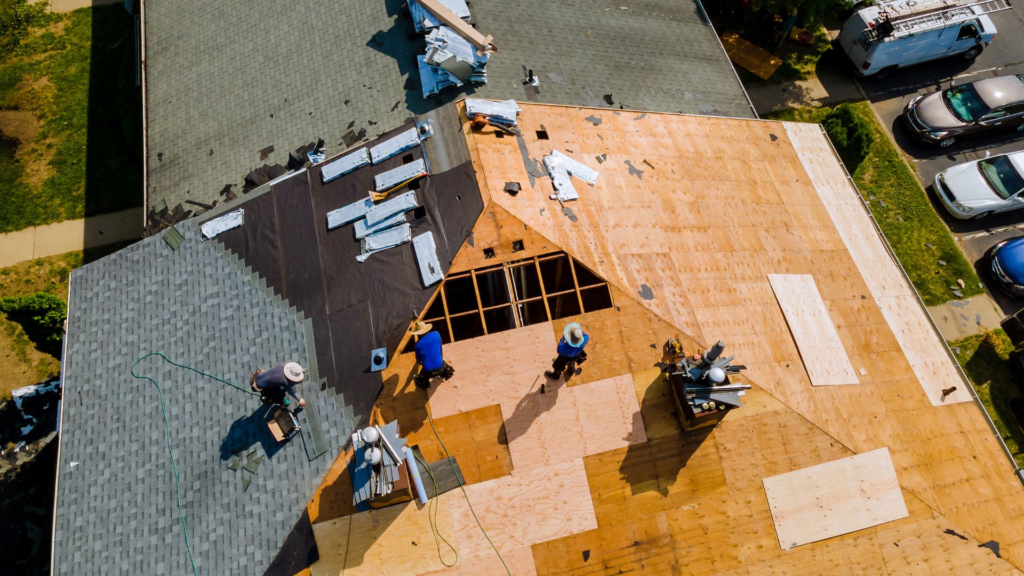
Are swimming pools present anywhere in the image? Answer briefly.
No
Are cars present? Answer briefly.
Yes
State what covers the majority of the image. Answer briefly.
buildings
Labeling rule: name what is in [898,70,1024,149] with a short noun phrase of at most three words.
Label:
car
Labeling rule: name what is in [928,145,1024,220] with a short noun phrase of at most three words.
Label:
car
